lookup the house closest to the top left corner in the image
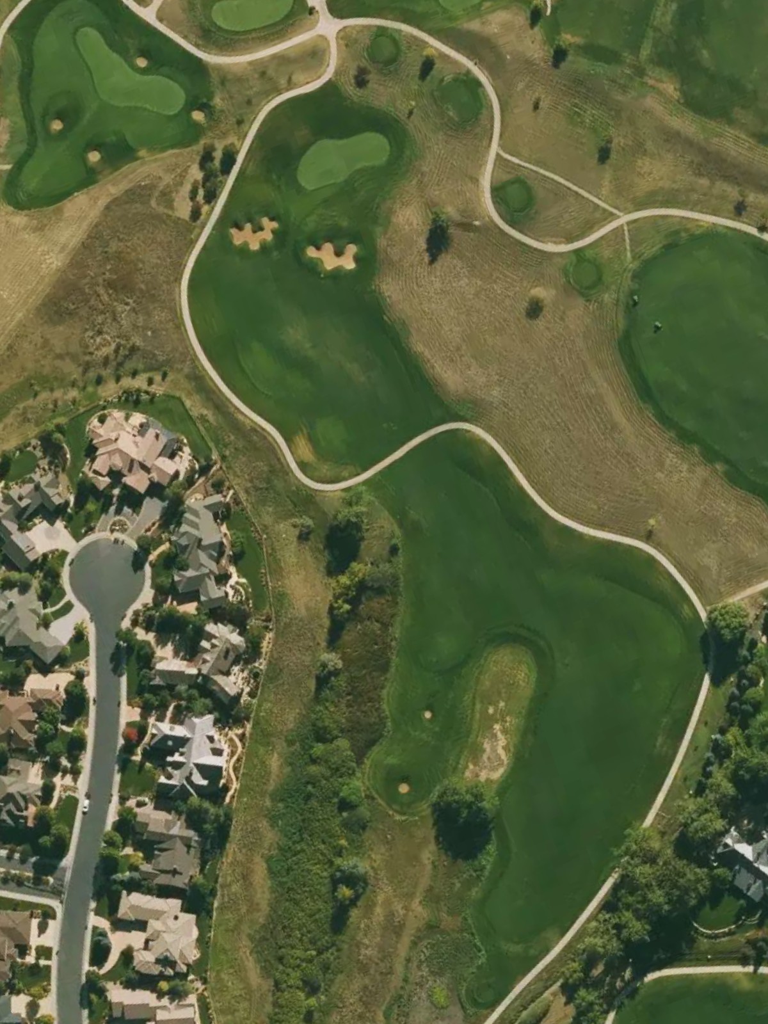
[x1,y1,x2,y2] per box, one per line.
[89,412,180,493]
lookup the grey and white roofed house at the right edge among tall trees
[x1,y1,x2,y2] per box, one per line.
[715,830,768,903]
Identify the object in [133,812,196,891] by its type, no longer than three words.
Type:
house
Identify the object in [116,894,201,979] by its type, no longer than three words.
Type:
house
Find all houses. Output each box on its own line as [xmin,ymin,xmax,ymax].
[0,688,63,750]
[0,996,22,1024]
[0,759,41,828]
[89,412,180,493]
[171,491,227,610]
[116,894,201,979]
[0,476,60,570]
[133,812,196,891]
[109,992,196,1024]
[0,580,62,665]
[151,620,245,702]
[715,830,768,903]
[149,713,226,803]
[0,912,30,982]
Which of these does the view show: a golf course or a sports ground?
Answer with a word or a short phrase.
golf course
